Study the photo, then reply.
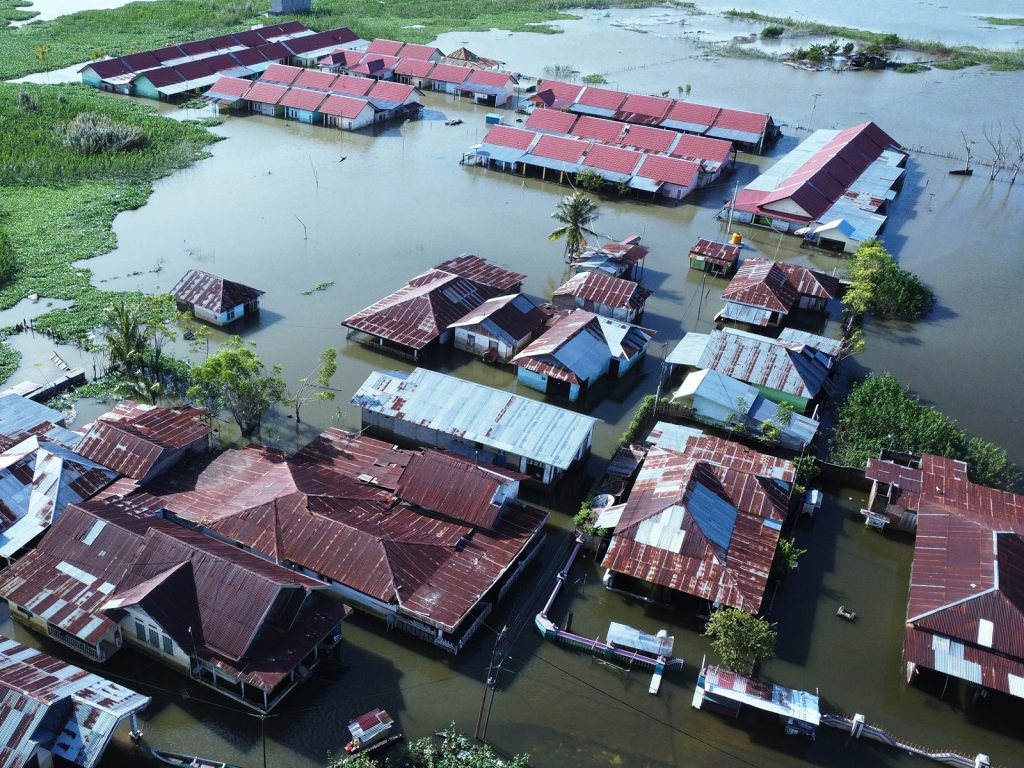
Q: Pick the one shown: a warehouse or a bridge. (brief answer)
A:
warehouse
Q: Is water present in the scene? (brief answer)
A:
Yes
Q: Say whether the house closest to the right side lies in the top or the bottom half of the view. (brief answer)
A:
bottom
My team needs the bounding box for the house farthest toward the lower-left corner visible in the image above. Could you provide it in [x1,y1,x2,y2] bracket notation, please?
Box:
[0,634,152,768]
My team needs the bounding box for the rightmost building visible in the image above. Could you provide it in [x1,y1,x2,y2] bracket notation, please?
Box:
[901,452,1024,705]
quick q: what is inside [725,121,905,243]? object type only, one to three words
building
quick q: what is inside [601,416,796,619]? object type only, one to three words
house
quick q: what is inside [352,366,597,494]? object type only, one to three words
warehouse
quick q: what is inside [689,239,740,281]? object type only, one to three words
shed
